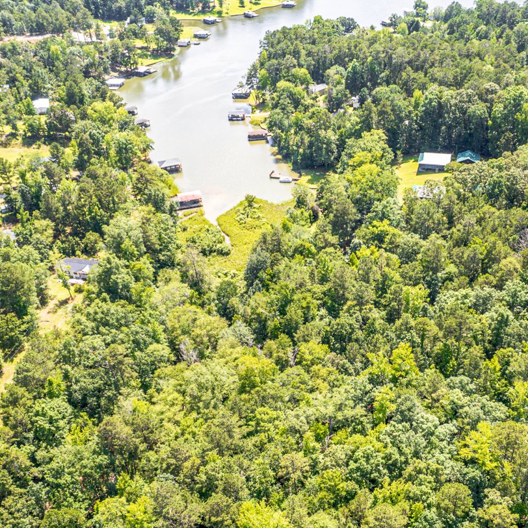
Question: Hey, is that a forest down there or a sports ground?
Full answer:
This image shows a forest.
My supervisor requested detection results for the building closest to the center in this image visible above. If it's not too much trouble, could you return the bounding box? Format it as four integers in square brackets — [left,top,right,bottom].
[171,187,204,207]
